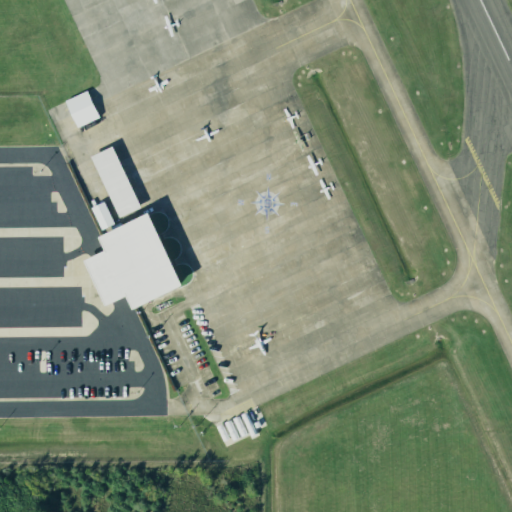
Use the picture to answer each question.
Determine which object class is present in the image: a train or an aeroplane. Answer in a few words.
aeroplane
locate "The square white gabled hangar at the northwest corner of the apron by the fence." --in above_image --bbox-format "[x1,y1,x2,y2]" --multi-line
[66,90,101,128]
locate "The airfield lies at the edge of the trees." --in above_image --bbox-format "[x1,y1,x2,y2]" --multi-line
[49,0,512,424]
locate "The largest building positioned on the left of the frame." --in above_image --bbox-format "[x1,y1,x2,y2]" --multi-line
[84,213,181,310]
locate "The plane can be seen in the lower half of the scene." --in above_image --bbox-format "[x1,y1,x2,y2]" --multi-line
[248,329,272,354]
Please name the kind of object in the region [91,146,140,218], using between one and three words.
shed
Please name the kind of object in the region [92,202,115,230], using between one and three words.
shed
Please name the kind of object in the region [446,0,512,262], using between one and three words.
runway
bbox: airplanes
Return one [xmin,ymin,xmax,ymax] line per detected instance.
[149,74,170,92]
[164,16,180,37]
[307,156,323,176]
[294,132,310,152]
[248,329,272,354]
[196,125,219,142]
[320,179,335,200]
[284,108,300,128]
